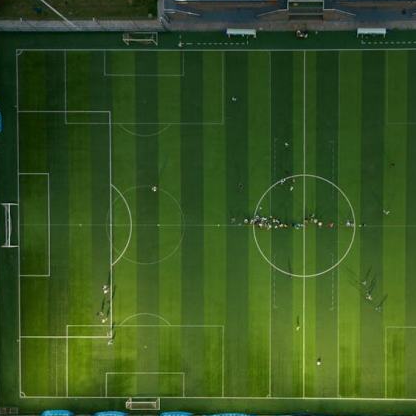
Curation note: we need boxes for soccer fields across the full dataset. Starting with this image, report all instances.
[327,49,416,399]
[20,49,281,398]
[0,29,416,416]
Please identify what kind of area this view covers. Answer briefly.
sports ground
